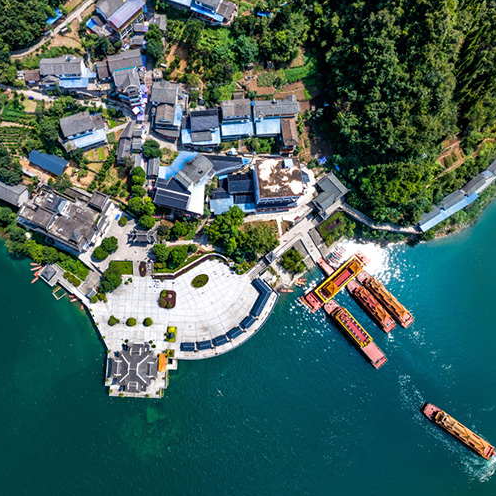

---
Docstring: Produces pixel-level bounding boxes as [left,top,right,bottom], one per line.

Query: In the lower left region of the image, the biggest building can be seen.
[105,341,164,395]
